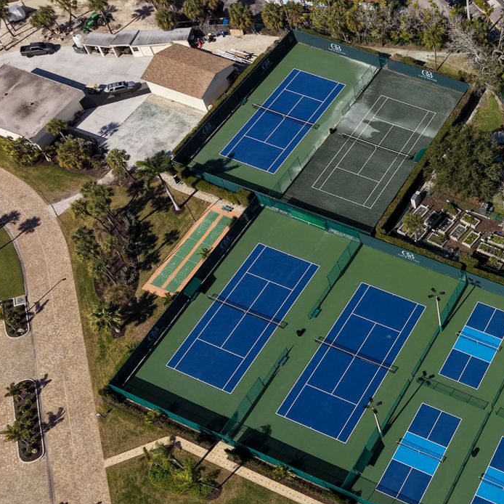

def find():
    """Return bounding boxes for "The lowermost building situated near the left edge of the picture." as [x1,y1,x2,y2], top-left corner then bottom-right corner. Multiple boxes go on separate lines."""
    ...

[0,64,89,150]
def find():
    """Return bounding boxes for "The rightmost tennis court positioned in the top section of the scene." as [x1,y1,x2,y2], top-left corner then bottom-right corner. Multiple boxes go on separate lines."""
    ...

[285,66,464,234]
